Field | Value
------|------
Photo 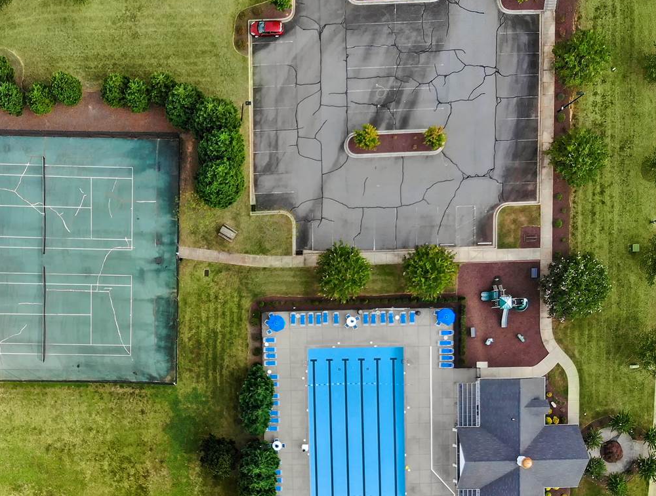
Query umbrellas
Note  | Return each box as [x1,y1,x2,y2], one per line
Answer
[437,307,455,326]
[268,315,285,332]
